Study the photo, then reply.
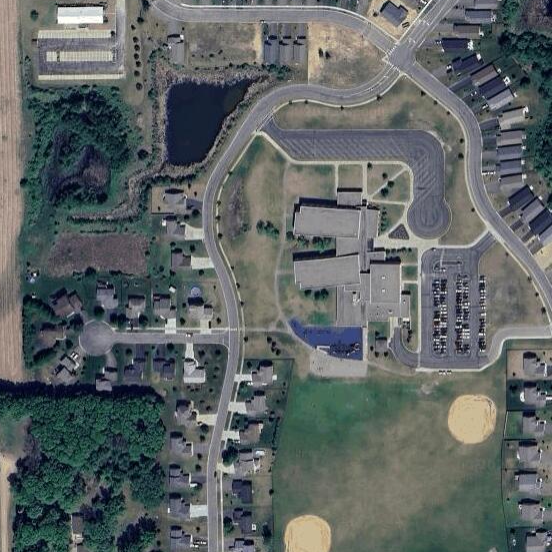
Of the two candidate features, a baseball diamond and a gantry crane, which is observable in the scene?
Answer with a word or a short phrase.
baseball diamond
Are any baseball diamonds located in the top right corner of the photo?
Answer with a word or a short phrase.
No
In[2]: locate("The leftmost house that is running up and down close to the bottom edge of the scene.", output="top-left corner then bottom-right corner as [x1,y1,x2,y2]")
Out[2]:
[70,514,83,542]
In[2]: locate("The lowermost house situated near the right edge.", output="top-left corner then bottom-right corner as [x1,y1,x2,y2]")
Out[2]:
[528,532,548,552]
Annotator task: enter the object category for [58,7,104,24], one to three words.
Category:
barn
